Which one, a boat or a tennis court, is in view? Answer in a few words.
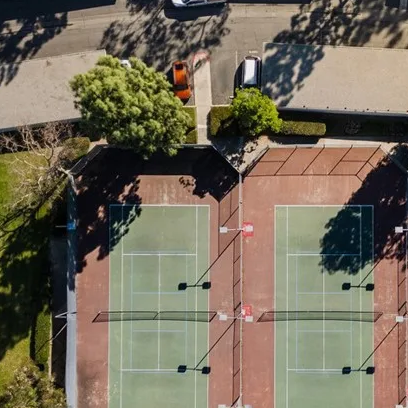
tennis court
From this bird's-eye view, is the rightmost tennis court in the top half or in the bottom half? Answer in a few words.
bottom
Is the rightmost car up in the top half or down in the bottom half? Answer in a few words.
top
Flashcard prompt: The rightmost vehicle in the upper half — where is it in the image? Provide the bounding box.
[240,55,261,95]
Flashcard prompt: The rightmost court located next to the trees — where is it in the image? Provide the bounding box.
[245,150,407,408]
